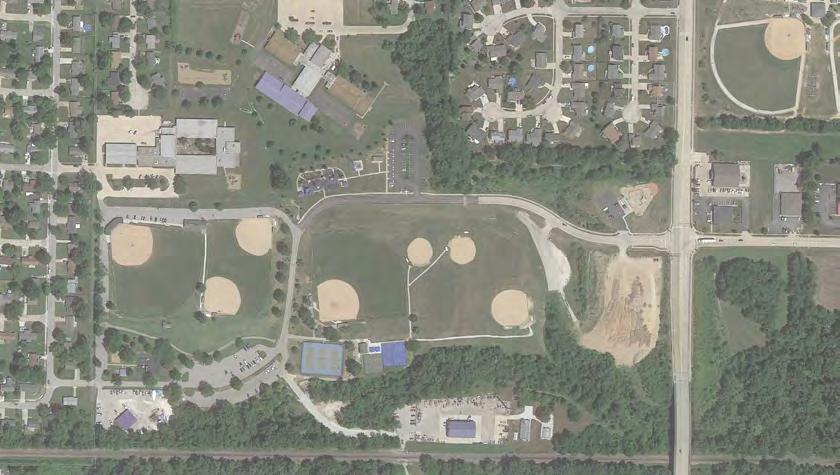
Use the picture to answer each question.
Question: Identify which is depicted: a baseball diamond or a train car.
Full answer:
Of the two, only a baseball diamond appears.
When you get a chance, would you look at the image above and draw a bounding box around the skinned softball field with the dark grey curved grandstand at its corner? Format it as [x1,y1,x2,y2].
[107,222,202,325]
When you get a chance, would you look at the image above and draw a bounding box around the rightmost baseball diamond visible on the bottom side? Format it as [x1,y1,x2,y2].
[492,290,532,329]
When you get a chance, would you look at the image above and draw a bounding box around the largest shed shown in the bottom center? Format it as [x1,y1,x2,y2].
[446,420,476,438]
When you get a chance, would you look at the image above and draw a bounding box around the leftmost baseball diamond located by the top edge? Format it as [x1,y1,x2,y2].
[714,14,810,109]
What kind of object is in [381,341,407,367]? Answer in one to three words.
basketball court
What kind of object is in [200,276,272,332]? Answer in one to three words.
baseball field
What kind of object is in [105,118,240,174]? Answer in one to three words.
building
